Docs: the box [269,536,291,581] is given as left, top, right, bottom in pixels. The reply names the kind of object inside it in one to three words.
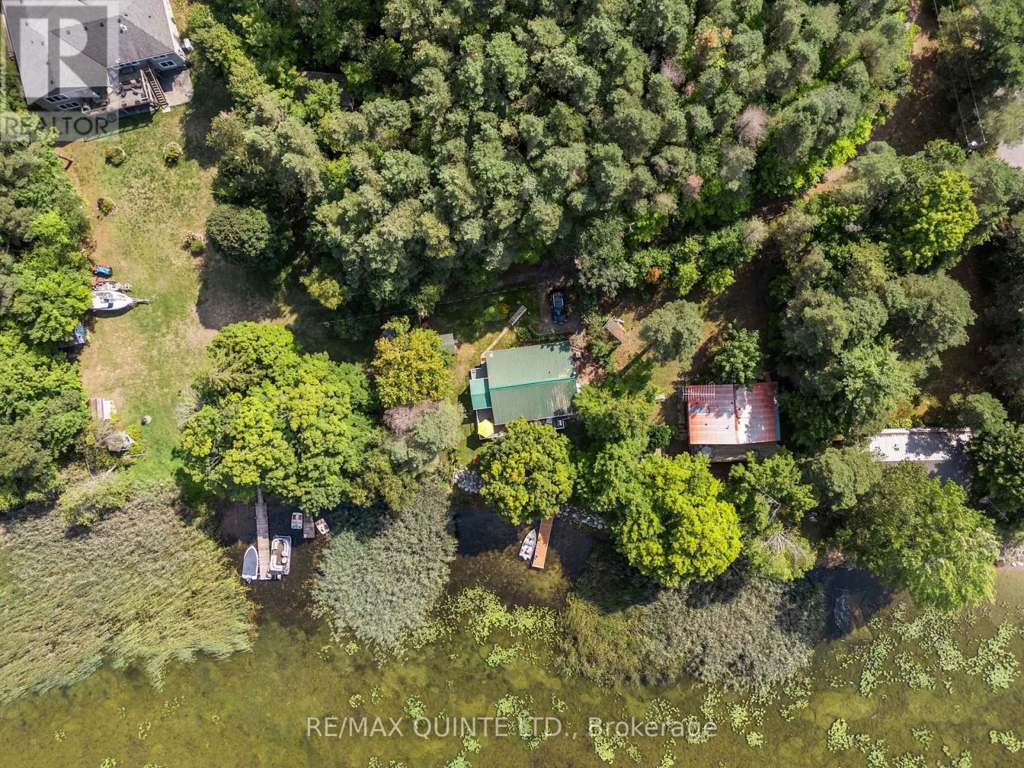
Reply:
boat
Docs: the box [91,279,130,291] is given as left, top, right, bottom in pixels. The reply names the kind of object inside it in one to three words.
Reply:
boat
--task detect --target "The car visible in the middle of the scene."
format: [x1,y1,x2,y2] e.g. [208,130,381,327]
[551,290,566,324]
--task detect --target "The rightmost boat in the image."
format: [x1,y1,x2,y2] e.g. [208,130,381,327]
[518,530,535,564]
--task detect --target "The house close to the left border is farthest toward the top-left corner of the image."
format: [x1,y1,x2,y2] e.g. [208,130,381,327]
[2,0,190,116]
